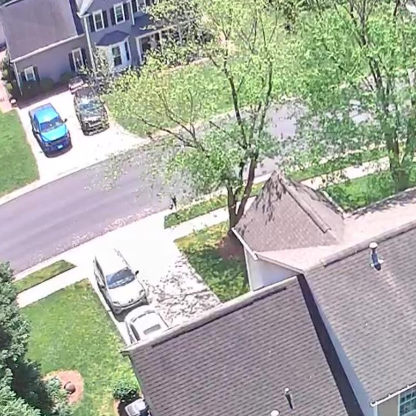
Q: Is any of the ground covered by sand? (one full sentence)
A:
No, sand can't be seen anywhere here.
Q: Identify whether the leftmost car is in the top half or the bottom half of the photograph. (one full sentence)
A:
The leftmost car sits in the top half of the picture.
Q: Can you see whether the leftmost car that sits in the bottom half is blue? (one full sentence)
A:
No, from above the leftmost car that sits in the bottom half looks white.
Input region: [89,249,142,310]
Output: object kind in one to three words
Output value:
car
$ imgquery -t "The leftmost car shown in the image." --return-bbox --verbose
[21,93,71,151]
